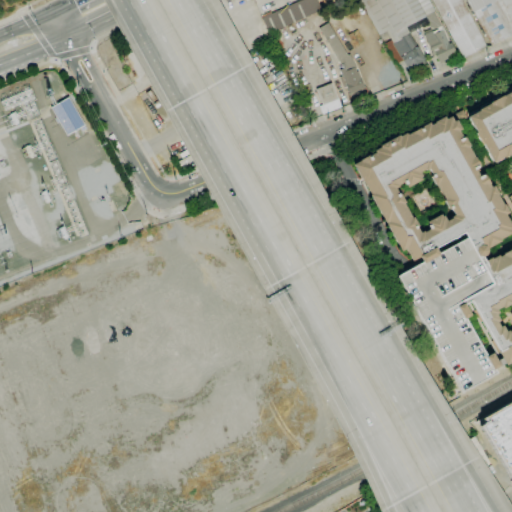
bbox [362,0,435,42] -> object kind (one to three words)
building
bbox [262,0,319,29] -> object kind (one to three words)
shed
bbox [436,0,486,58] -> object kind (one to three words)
building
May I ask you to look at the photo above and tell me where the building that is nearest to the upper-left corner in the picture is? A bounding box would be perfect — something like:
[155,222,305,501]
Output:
[52,96,84,140]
